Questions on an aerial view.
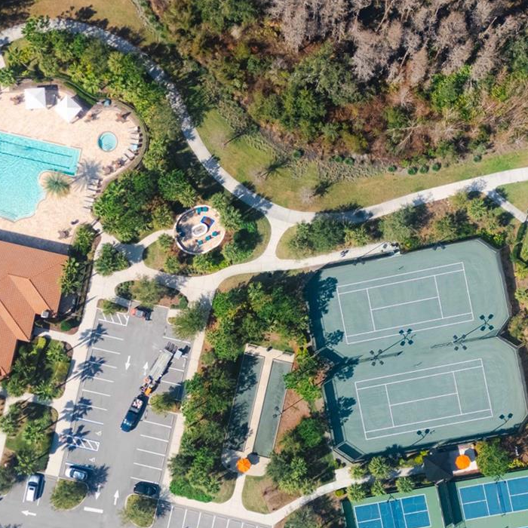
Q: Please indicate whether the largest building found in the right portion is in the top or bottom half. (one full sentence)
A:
The largest building found in the right portion is in the bottom half of the image.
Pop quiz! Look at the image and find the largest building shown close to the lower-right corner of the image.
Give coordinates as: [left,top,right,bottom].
[420,449,455,483]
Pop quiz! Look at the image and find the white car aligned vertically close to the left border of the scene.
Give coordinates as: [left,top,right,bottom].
[24,474,39,502]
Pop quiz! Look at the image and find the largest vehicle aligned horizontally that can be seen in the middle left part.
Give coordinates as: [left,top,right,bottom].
[131,308,152,321]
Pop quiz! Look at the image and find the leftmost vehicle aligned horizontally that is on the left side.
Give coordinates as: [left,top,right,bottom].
[64,467,88,481]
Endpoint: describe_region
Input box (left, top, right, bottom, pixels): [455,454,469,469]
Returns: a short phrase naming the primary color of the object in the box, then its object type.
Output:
orange umbrella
